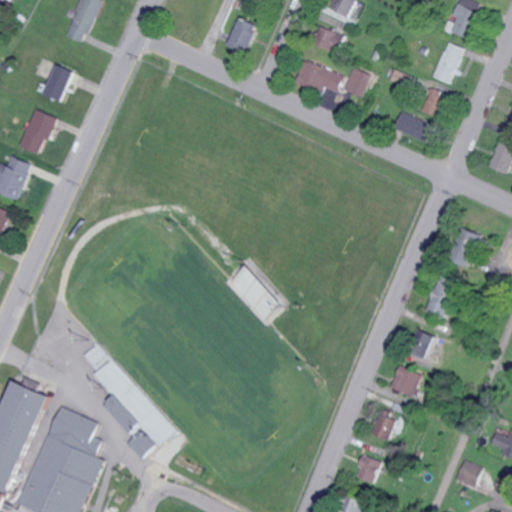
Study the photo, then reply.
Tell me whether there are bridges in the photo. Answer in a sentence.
No, there's no bridge here.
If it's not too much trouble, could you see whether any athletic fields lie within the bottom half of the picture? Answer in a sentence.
Yes, there is an athletic field within the bottom half of the picture.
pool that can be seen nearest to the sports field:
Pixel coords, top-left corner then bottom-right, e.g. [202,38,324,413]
[393,416,406,436]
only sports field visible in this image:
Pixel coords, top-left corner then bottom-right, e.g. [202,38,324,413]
[62,210,326,486]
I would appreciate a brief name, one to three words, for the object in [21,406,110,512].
building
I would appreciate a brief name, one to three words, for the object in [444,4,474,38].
house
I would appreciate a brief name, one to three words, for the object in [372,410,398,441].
house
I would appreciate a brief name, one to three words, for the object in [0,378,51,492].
building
